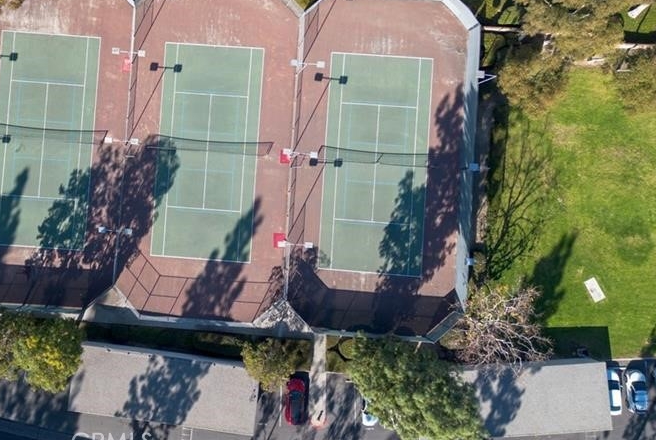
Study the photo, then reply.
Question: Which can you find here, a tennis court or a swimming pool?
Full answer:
The image shows a tennis court.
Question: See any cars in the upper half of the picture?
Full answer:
No, in the upper half of the picture there is no car.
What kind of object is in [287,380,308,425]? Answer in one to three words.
car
